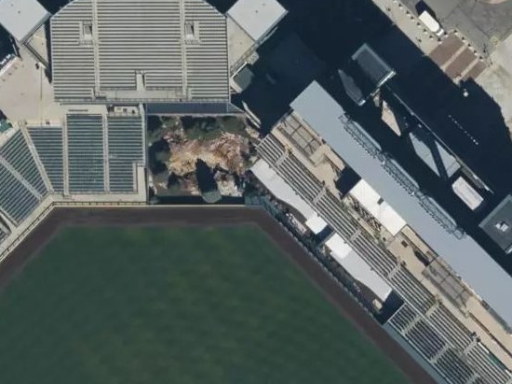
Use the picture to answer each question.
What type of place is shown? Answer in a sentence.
The picture captures a sports ground.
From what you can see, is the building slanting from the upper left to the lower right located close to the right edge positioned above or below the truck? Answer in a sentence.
In the image, the building slanting from the upper left to the lower right located close to the right edge appears below the truck.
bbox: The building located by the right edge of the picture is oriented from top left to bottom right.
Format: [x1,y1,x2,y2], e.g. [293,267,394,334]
[365,84,497,221]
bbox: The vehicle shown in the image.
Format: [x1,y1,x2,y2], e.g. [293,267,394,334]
[416,5,442,33]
